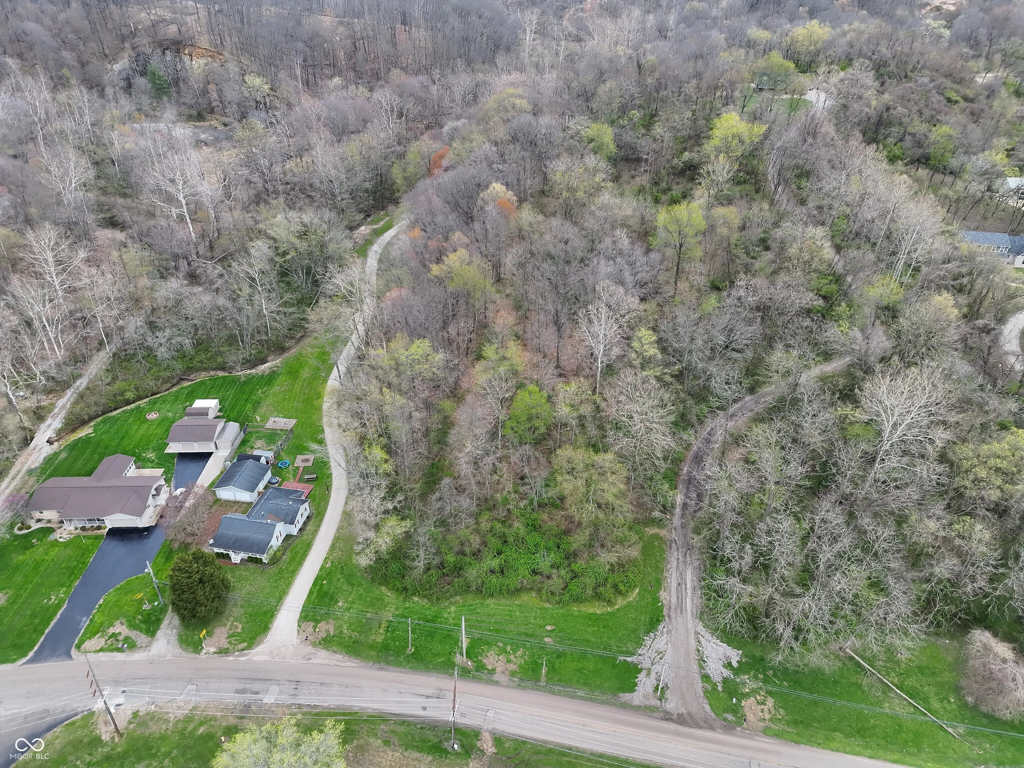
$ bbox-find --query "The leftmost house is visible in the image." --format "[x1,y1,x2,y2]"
[28,452,172,532]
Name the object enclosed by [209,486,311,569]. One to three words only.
house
